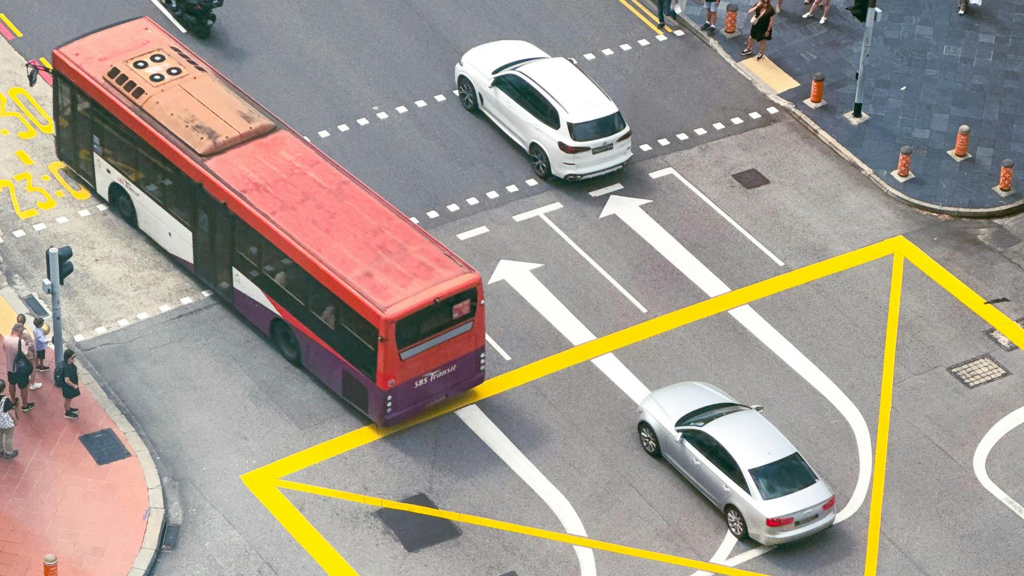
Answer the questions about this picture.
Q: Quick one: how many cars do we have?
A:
2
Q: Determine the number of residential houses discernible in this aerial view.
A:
0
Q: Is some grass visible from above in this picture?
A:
No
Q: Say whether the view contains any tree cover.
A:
No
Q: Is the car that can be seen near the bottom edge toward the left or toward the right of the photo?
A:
right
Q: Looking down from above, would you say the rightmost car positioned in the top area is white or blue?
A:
white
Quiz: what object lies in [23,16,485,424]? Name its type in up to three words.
bus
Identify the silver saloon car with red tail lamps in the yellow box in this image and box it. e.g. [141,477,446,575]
[635,378,837,548]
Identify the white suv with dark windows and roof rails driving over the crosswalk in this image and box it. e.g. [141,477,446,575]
[453,36,635,180]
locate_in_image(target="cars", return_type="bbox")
[635,378,837,548]
[453,36,635,180]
